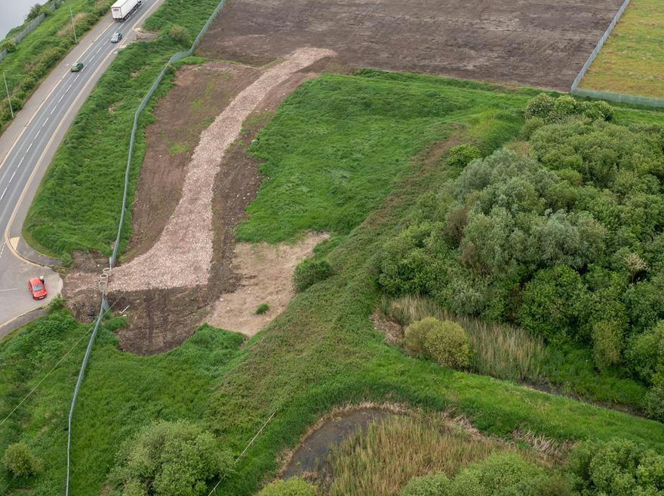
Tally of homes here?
0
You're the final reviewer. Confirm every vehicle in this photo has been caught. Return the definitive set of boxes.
[111,0,139,19]
[110,32,122,41]
[70,58,82,69]
[29,274,47,297]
